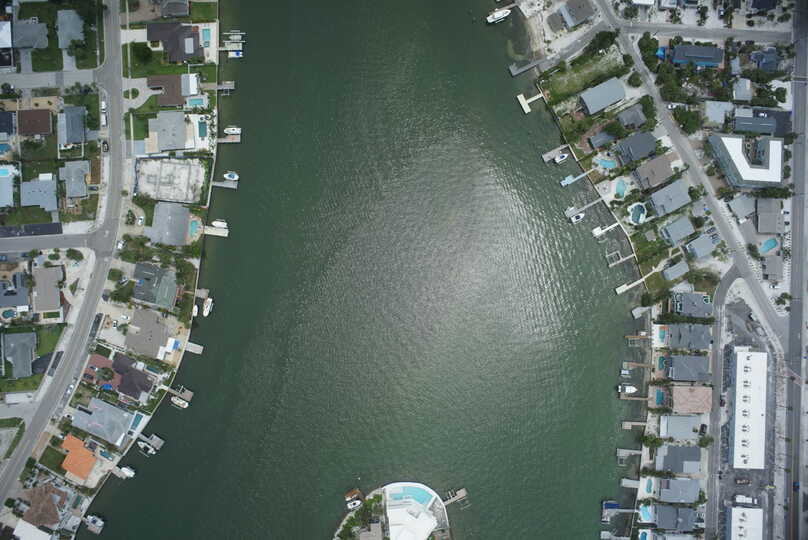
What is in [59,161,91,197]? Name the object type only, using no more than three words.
house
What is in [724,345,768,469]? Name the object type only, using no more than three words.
building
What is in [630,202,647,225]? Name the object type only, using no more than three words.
swimming pool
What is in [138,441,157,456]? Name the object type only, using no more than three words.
boat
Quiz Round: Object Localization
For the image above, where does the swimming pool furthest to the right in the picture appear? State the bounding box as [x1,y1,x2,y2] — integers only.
[760,237,779,253]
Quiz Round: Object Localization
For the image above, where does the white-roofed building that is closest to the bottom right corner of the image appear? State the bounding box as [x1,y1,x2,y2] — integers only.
[721,503,764,540]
